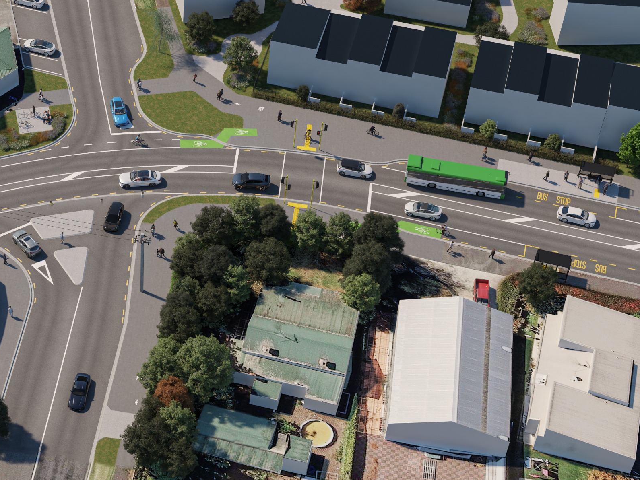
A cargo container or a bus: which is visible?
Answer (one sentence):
This aerial view contains a bus.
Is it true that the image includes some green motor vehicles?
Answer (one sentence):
Yes, the image includes a green motor vehicle.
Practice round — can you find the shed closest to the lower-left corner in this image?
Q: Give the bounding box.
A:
[193,404,313,480]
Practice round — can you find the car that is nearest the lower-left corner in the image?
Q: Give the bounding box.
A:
[69,372,92,412]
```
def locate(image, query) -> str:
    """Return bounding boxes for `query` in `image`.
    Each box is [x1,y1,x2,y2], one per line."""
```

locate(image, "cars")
[12,228,42,259]
[103,200,124,232]
[21,38,58,57]
[336,159,373,178]
[11,0,45,10]
[112,97,129,125]
[403,200,444,221]
[119,170,161,188]
[231,172,271,191]
[555,206,598,227]
[69,372,92,412]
